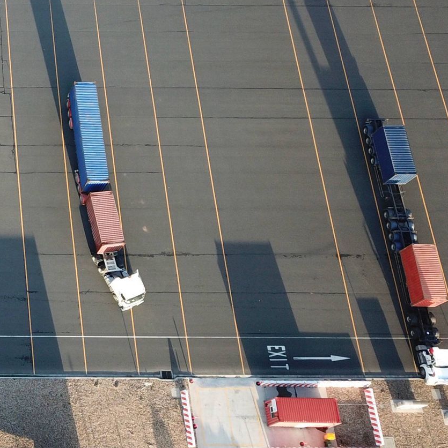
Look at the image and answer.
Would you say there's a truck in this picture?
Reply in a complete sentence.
Yes, the picture does show a truck.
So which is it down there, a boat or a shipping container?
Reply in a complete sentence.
I can see a shipping container in this picture.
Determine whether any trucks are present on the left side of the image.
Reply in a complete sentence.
Yes, a truck is visible on the left side of the image.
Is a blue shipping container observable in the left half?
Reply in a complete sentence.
Yes, I can see a blue shipping container in the left half.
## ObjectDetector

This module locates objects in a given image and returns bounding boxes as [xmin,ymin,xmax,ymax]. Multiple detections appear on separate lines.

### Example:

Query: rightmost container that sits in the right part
[400,244,448,307]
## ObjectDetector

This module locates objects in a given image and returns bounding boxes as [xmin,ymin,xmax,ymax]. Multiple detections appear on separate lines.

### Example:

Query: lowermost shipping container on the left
[86,190,125,254]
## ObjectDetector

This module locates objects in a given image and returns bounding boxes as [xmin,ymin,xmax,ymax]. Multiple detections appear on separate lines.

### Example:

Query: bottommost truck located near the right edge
[407,312,448,386]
